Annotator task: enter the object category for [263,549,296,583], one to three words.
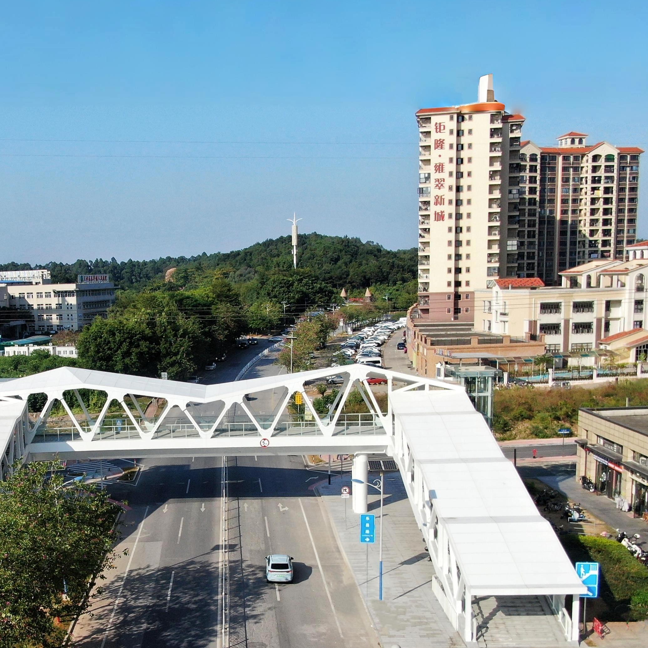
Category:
car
